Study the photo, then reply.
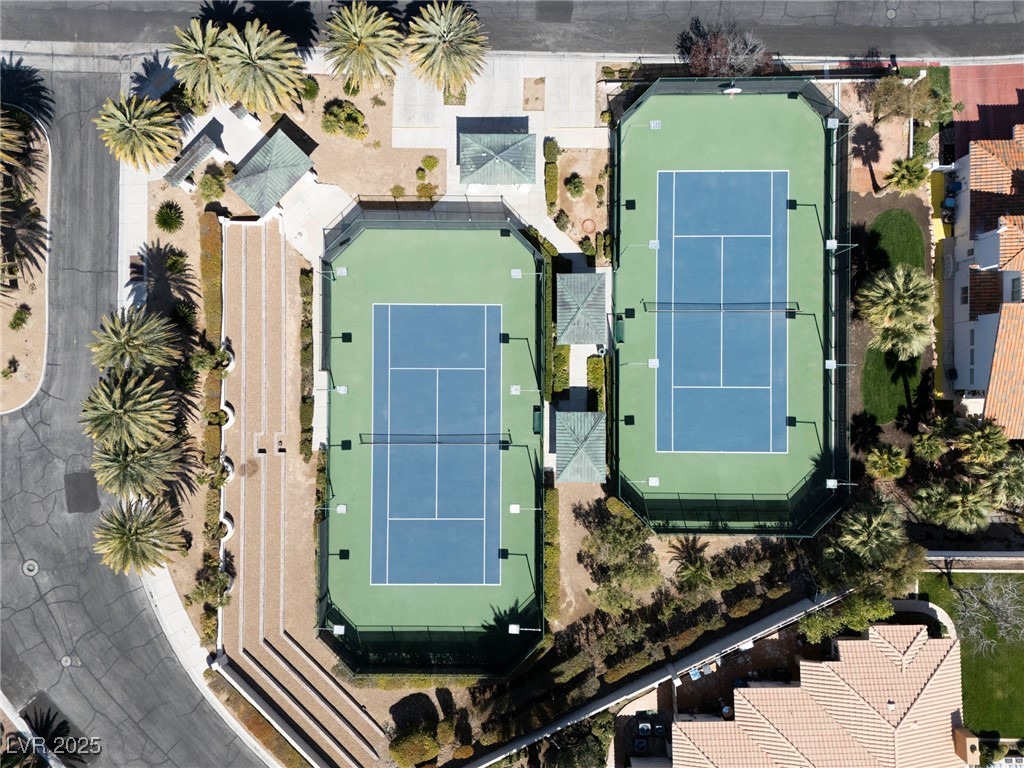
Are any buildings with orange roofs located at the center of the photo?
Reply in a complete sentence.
No, no building with an orange roof appears at the center of the photo.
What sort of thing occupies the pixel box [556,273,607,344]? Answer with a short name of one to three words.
building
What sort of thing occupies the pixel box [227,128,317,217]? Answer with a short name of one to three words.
building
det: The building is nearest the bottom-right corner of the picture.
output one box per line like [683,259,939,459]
[672,624,980,768]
